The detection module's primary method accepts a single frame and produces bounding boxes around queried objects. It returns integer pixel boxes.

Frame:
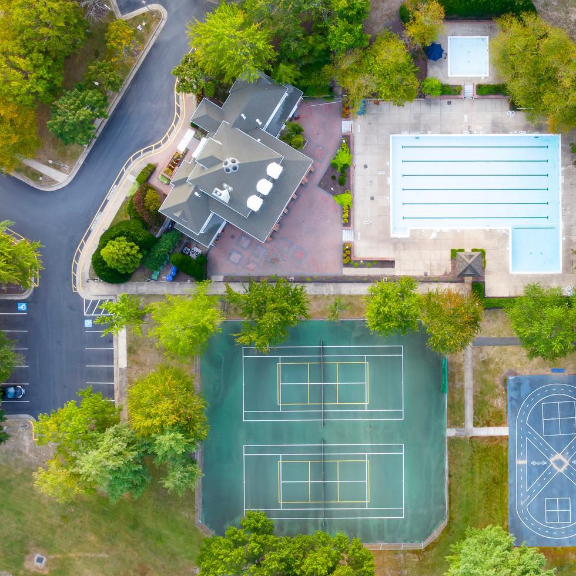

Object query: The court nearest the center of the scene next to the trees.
[242,340,404,428]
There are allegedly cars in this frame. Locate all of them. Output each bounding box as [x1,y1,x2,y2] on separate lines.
[0,384,26,401]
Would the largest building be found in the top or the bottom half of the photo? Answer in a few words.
top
